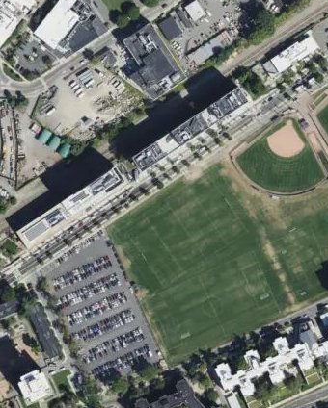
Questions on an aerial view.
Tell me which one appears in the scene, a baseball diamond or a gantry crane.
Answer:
baseball diamond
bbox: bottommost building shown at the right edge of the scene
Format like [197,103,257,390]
[215,331,328,397]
